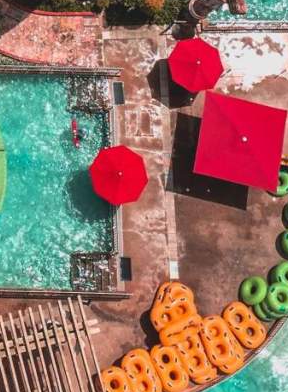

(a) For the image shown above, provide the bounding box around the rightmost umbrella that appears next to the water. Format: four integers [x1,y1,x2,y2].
[167,37,223,93]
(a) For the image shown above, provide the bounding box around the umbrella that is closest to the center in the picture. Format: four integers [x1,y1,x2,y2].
[88,145,149,205]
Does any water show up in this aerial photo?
Yes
